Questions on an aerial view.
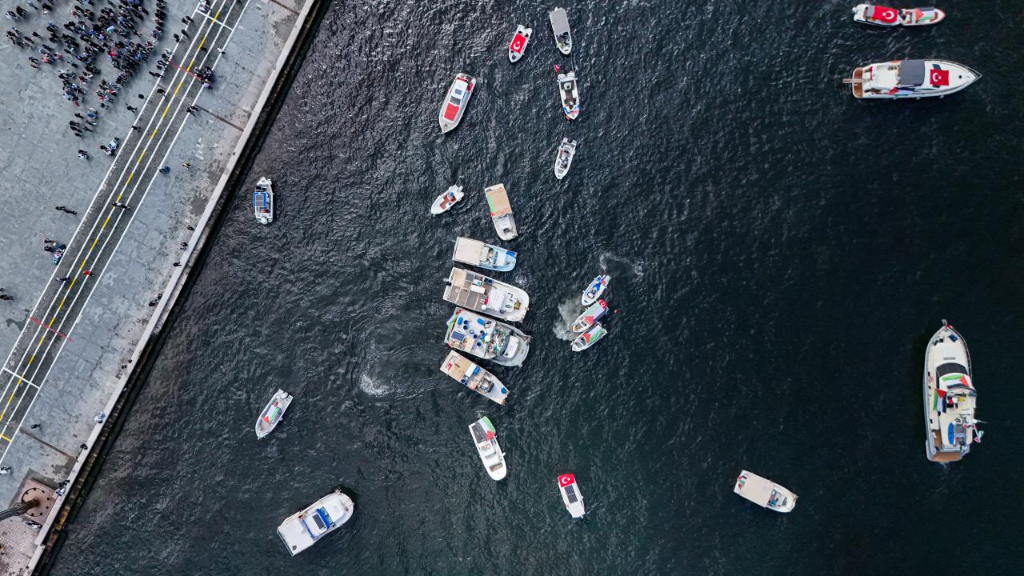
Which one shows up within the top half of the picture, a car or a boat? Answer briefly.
boat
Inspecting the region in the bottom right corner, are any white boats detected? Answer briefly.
Yes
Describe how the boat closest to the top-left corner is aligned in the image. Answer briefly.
up and down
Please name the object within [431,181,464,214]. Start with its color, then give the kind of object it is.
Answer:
white boat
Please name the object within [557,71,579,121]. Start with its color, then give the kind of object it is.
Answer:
white boat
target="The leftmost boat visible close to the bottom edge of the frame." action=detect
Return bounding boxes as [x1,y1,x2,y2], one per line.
[277,489,355,553]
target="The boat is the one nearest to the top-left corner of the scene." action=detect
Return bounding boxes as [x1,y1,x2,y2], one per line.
[254,176,275,224]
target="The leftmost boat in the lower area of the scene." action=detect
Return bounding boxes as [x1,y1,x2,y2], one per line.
[255,388,294,439]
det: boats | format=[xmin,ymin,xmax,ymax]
[557,71,579,121]
[277,489,355,553]
[468,418,505,481]
[508,25,533,62]
[851,5,903,27]
[559,472,585,518]
[733,470,798,510]
[484,183,516,241]
[550,6,572,55]
[453,237,517,270]
[255,388,294,439]
[447,308,532,367]
[440,350,509,405]
[443,268,530,319]
[431,181,464,214]
[843,56,982,100]
[441,73,477,135]
[571,321,606,350]
[556,138,577,179]
[901,8,946,26]
[583,276,608,305]
[922,319,986,461]
[573,301,608,331]
[254,176,275,224]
